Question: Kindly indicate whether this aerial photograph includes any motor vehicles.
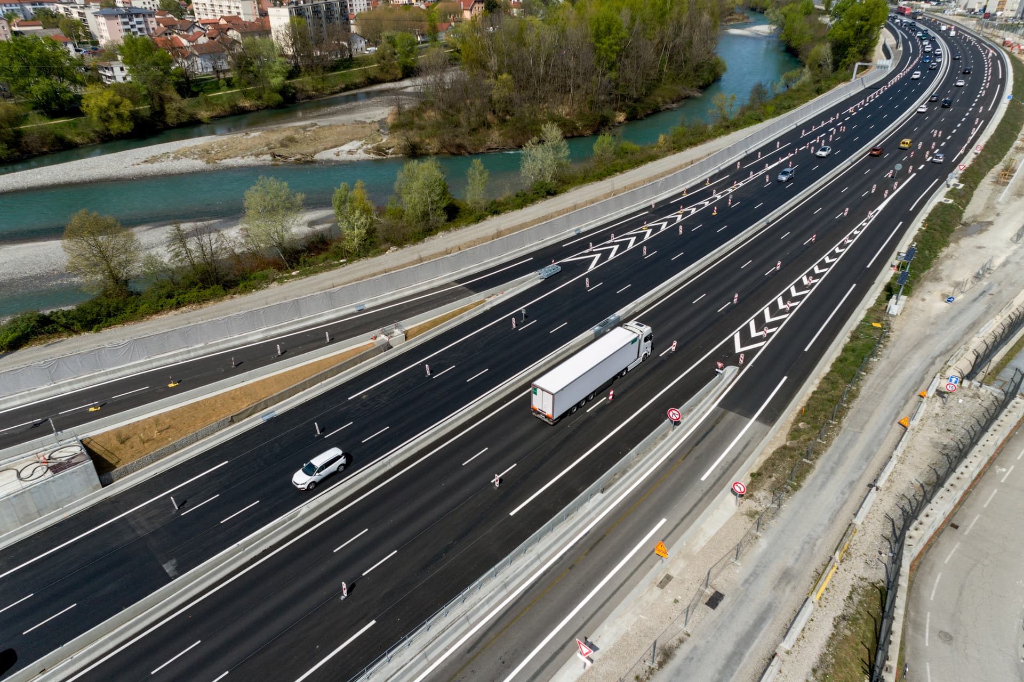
Yes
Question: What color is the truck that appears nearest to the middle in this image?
white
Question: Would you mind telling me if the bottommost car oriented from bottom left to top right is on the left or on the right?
left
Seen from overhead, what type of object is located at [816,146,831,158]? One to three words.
vehicle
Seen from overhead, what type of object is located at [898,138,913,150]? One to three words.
vehicle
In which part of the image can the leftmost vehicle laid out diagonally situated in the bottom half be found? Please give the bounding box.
[291,447,350,490]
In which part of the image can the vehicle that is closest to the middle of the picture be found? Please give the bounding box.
[531,325,655,426]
